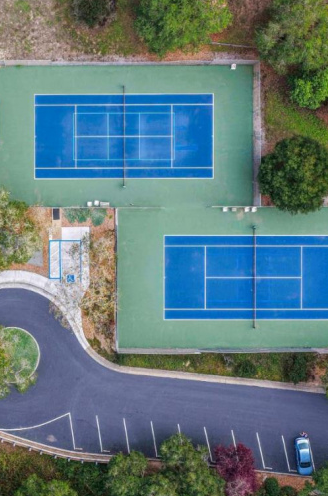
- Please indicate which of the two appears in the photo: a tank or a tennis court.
tennis court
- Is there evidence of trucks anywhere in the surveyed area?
No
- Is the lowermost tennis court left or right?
right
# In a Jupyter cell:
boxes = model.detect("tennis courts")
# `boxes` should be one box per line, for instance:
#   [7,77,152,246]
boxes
[119,207,328,350]
[0,65,255,207]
